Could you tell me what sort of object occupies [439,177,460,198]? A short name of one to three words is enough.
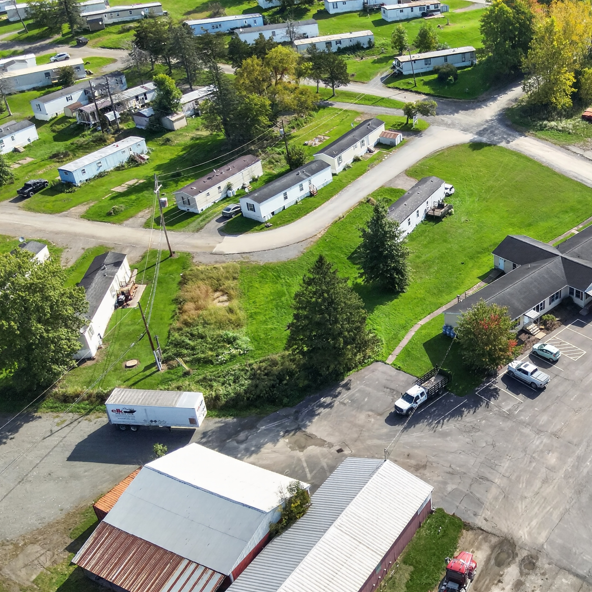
car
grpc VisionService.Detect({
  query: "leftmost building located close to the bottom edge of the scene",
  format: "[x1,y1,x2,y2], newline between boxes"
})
[71,443,310,592]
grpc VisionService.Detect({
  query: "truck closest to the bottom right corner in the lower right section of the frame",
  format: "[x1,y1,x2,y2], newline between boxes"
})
[443,546,487,592]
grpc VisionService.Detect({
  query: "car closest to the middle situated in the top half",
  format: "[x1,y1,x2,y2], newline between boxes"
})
[217,202,244,218]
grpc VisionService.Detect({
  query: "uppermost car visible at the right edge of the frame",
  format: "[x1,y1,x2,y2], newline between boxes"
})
[530,342,563,364]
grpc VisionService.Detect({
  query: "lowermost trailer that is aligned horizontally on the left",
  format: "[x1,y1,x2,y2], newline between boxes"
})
[105,388,207,430]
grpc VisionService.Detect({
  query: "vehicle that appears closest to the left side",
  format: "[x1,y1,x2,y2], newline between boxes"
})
[11,181,54,201]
